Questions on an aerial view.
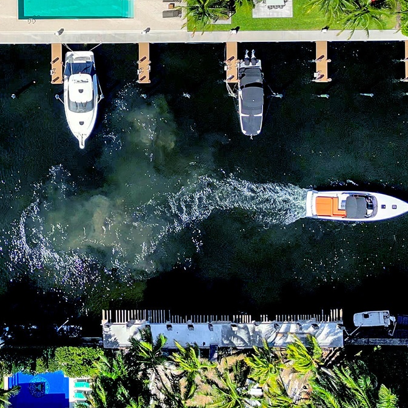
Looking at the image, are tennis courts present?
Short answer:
No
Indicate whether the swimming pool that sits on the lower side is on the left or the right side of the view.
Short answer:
left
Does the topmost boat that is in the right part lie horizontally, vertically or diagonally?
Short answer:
vertically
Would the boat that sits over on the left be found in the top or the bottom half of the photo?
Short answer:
top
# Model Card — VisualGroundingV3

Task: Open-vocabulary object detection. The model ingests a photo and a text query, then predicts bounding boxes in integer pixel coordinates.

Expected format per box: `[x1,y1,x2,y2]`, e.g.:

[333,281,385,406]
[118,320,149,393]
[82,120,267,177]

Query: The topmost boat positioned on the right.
[238,48,265,139]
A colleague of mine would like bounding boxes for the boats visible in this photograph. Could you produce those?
[352,310,400,327]
[303,191,408,220]
[64,51,100,149]
[238,48,265,139]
